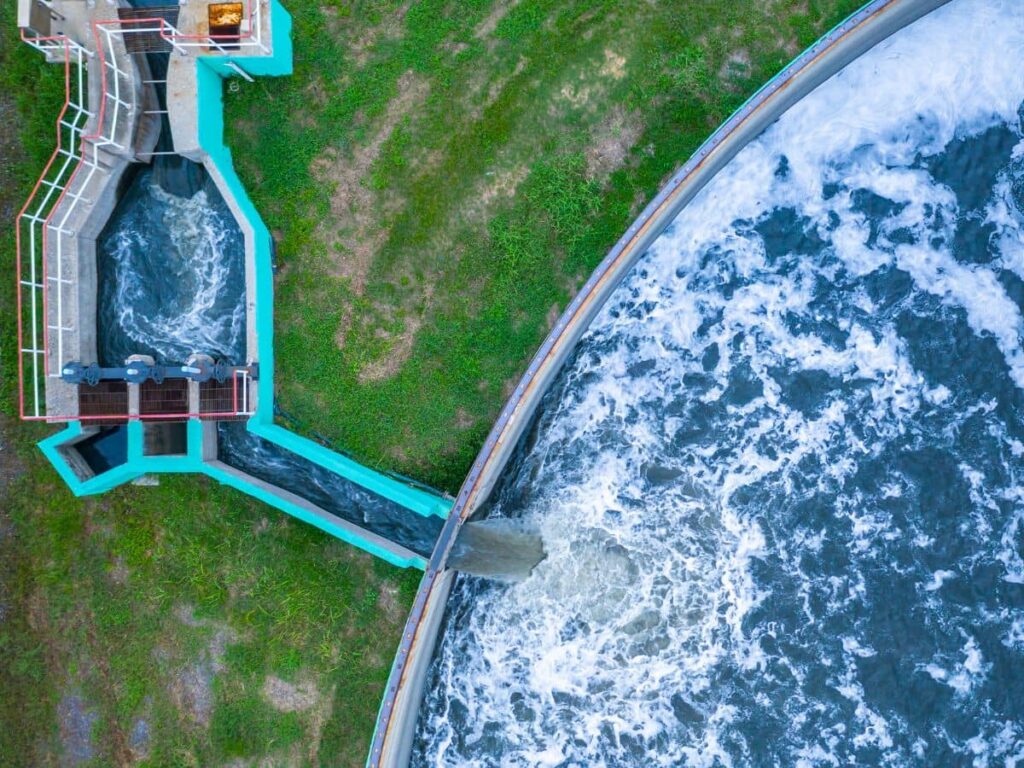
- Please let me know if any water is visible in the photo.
Yes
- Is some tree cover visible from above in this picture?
No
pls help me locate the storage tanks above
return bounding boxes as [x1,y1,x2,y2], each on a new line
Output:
[367,0,964,768]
